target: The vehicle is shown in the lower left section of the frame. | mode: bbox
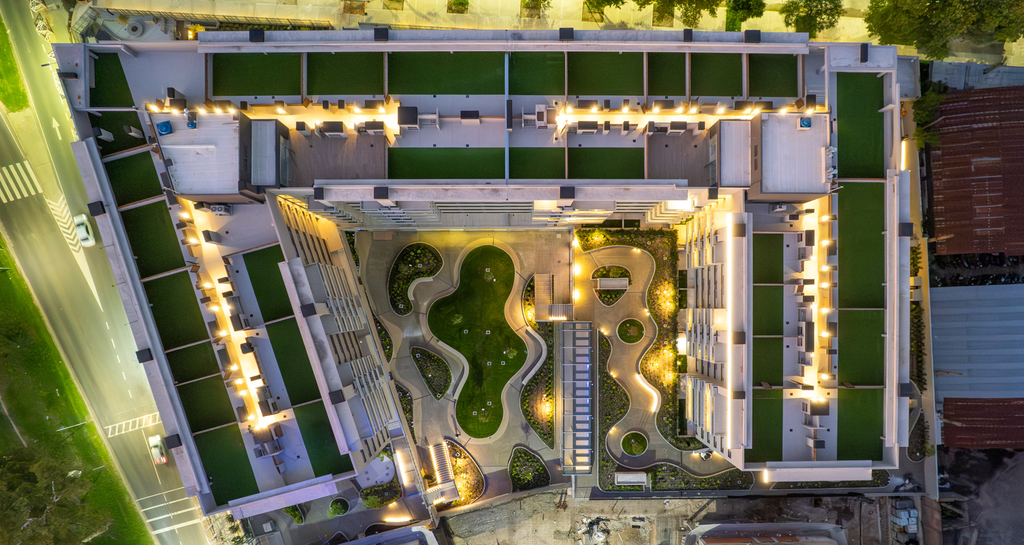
[149,433,170,466]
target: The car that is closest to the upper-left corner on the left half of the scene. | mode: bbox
[76,214,98,247]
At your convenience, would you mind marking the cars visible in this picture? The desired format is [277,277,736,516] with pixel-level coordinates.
[76,214,98,247]
[149,433,170,466]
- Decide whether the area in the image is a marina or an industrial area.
industrial area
